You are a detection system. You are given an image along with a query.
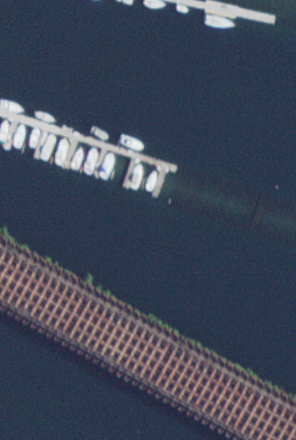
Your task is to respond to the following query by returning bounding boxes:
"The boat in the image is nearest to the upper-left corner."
[0,98,24,112]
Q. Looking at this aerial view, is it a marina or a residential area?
marina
